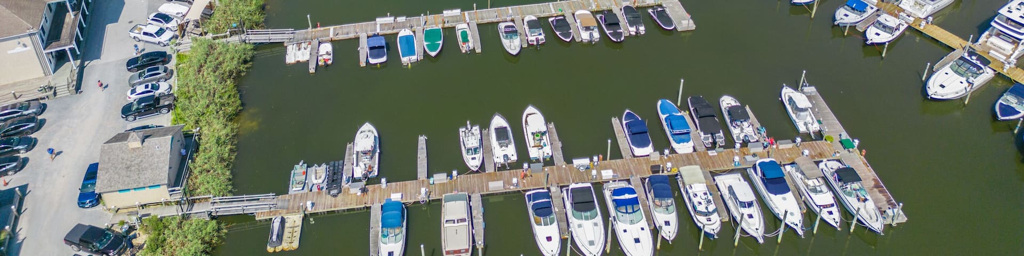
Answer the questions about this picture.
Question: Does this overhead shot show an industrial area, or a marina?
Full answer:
What you see here is a marina.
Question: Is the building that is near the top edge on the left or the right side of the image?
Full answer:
It is on the left.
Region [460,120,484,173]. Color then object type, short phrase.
white boat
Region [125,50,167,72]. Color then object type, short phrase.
black car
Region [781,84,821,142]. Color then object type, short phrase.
white boat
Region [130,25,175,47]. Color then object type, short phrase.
white truck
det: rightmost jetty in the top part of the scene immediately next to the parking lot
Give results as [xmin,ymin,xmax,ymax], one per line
[283,0,668,47]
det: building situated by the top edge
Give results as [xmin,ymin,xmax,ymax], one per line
[0,0,94,87]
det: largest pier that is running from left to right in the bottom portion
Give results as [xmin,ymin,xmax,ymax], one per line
[255,141,843,222]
